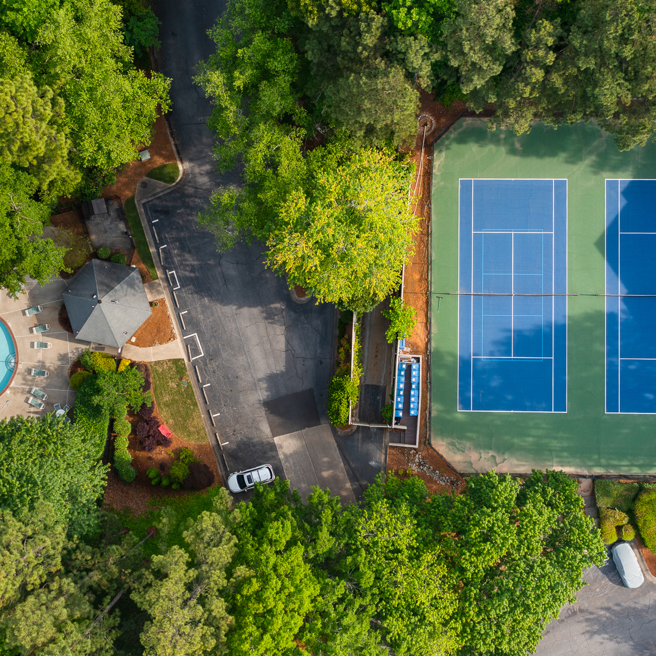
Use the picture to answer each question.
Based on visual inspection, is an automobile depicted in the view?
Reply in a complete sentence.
Yes, this view includes an automobile.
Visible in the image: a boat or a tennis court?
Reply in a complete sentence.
The one in the frame is a tennis court.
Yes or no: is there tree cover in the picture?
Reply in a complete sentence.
Yes, there is tree cover in the image.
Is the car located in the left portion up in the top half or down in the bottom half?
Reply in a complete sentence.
The bottom half of the photo is where the car located in the left portion is.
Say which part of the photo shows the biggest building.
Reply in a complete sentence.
The biggest building is in the left part of the image.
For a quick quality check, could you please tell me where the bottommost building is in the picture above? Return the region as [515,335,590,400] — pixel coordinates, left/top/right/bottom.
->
[62,258,153,348]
